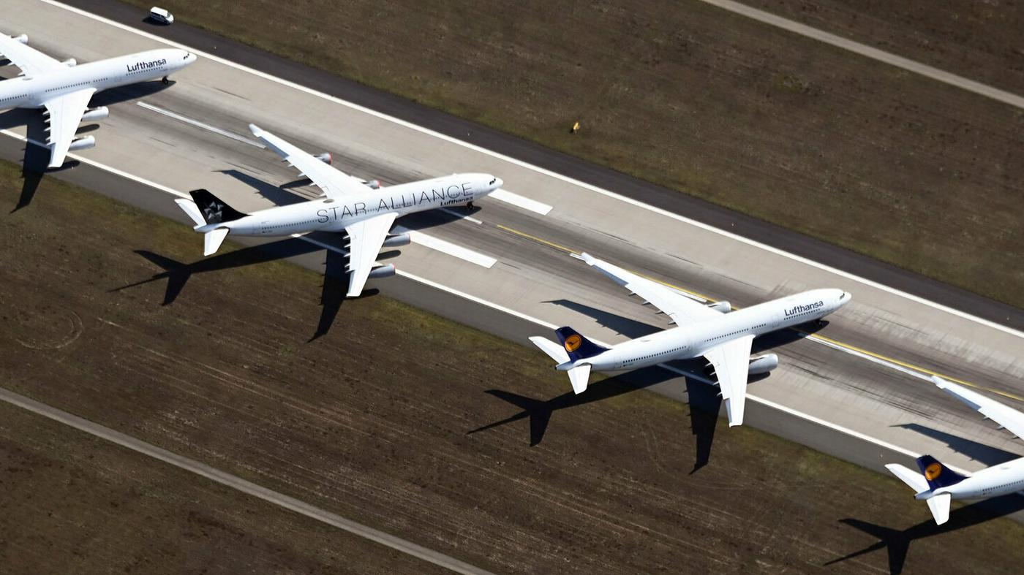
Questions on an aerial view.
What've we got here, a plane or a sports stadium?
plane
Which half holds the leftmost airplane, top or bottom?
top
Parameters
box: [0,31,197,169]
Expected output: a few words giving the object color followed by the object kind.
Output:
white airplane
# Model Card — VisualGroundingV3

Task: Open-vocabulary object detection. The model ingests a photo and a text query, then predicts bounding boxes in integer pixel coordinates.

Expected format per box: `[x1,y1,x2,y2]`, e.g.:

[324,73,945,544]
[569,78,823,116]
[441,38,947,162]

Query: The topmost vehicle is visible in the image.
[148,10,173,27]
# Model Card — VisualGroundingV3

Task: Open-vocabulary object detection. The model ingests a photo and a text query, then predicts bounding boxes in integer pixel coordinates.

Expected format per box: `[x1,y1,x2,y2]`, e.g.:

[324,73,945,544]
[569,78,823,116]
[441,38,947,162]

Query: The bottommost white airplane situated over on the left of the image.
[174,122,503,297]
